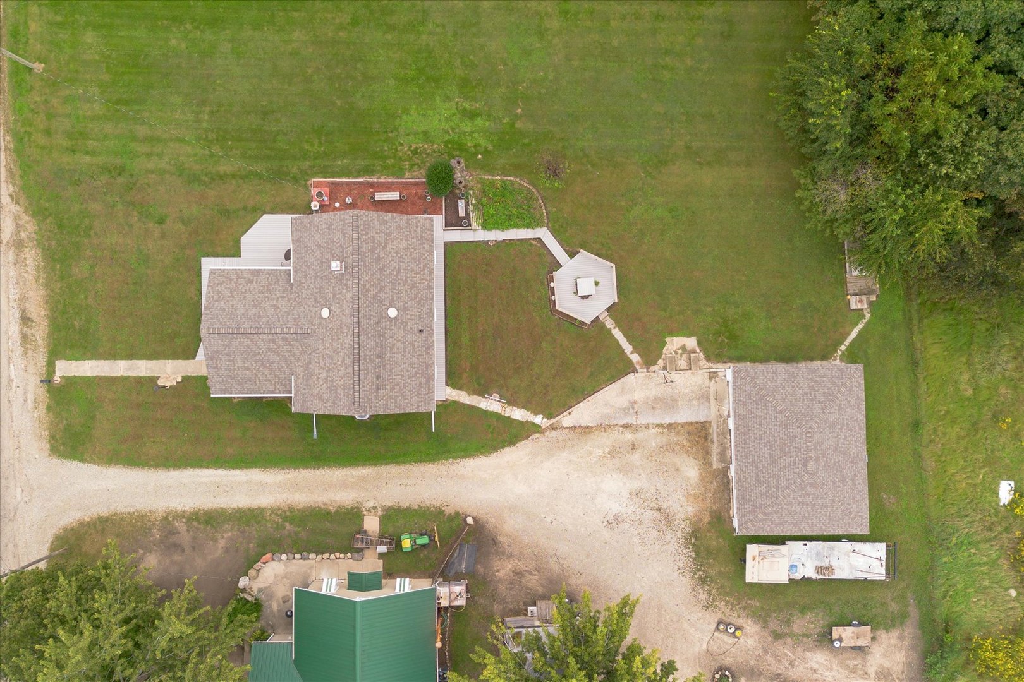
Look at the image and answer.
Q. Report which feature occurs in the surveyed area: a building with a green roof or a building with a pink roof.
building with a green roof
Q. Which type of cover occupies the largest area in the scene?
grass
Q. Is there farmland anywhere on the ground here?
No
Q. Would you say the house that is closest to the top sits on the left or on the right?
left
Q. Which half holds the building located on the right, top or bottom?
bottom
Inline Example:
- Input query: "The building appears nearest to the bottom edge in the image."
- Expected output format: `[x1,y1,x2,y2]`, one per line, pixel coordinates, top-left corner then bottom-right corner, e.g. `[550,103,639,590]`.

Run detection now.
[247,586,438,682]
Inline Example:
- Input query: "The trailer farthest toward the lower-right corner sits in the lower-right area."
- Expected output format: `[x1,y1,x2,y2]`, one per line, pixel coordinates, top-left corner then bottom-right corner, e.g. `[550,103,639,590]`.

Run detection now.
[815,623,871,650]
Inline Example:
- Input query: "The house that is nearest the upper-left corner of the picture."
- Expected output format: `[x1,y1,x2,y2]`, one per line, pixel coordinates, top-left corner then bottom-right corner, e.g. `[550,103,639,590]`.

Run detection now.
[201,210,439,439]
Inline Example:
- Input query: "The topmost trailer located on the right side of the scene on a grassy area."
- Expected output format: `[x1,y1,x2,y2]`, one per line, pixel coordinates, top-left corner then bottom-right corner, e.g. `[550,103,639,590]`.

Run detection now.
[740,537,898,582]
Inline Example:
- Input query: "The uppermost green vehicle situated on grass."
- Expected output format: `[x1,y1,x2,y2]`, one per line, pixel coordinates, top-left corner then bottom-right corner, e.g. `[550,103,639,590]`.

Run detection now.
[400,529,440,554]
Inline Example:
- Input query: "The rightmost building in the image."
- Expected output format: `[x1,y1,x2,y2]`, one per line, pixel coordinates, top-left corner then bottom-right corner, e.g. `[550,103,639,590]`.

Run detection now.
[725,363,870,537]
